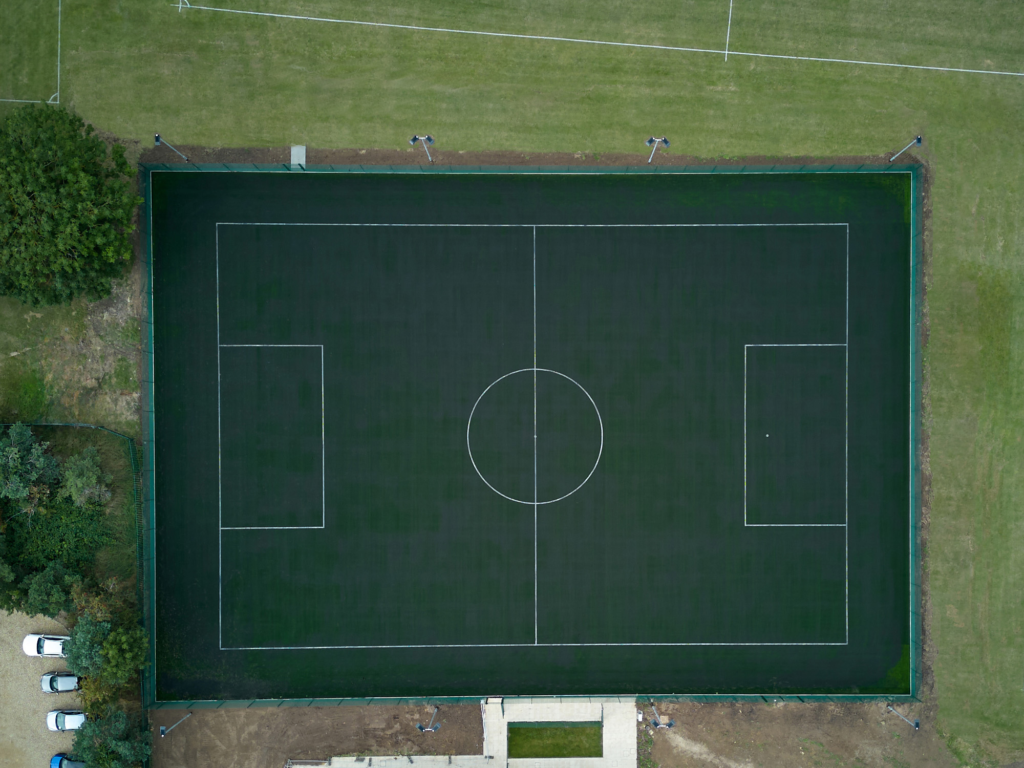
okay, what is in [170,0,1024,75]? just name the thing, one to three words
sports field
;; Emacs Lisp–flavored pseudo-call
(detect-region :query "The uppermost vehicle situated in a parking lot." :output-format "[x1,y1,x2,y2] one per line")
[23,633,73,659]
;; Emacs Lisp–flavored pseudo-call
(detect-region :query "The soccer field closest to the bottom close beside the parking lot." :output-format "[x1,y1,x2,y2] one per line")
[151,171,912,702]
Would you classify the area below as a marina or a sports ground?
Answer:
sports ground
